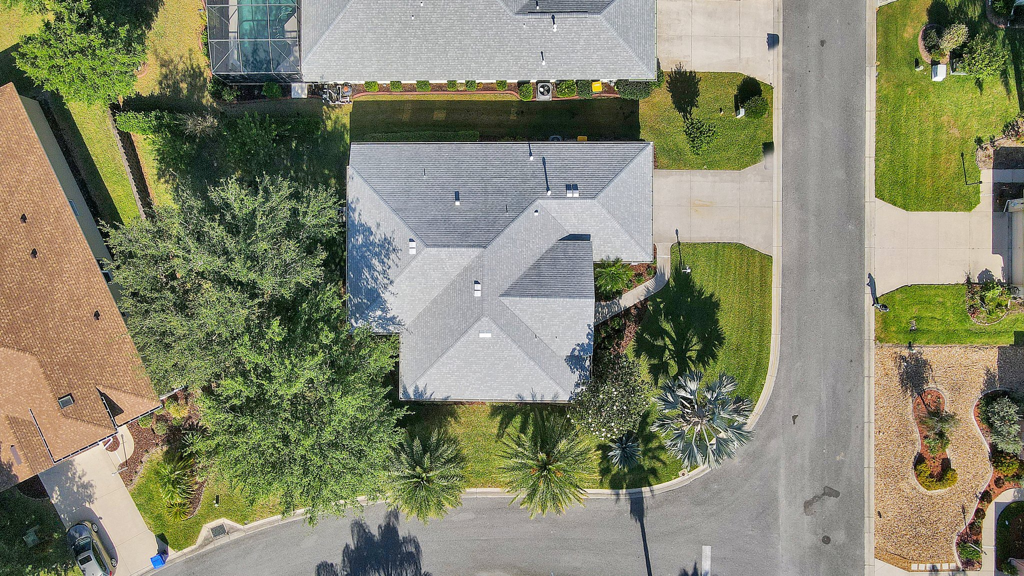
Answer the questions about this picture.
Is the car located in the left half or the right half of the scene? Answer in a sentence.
It is on the left.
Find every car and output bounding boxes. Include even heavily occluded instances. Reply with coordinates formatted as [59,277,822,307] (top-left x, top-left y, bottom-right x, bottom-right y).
[73,517,120,576]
